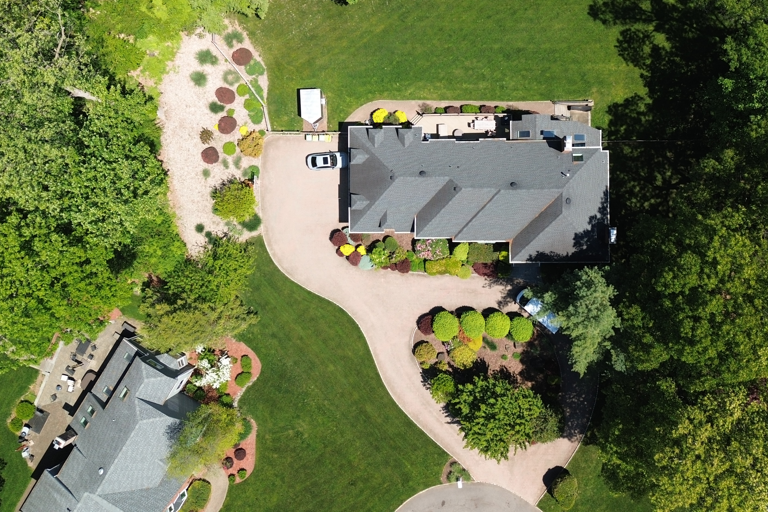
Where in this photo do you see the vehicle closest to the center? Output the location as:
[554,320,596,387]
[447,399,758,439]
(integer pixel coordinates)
[307,151,349,170]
